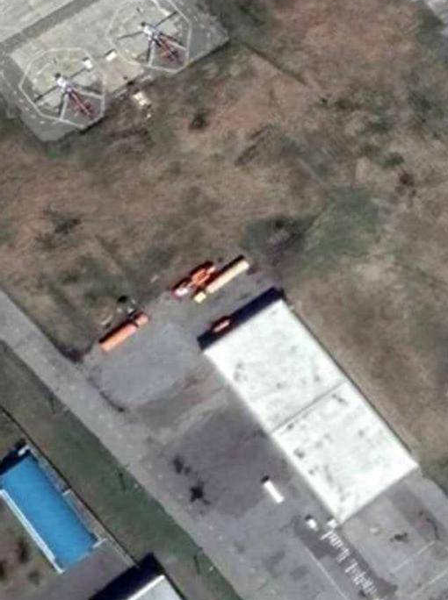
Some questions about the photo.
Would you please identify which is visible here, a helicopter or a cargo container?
helicopter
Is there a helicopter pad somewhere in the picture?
Yes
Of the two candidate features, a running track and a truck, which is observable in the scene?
truck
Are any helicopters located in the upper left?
Yes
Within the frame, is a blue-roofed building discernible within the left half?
Yes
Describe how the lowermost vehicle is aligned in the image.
at an angle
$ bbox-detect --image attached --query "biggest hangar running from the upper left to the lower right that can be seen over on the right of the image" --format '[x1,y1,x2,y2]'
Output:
[203,298,417,523]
